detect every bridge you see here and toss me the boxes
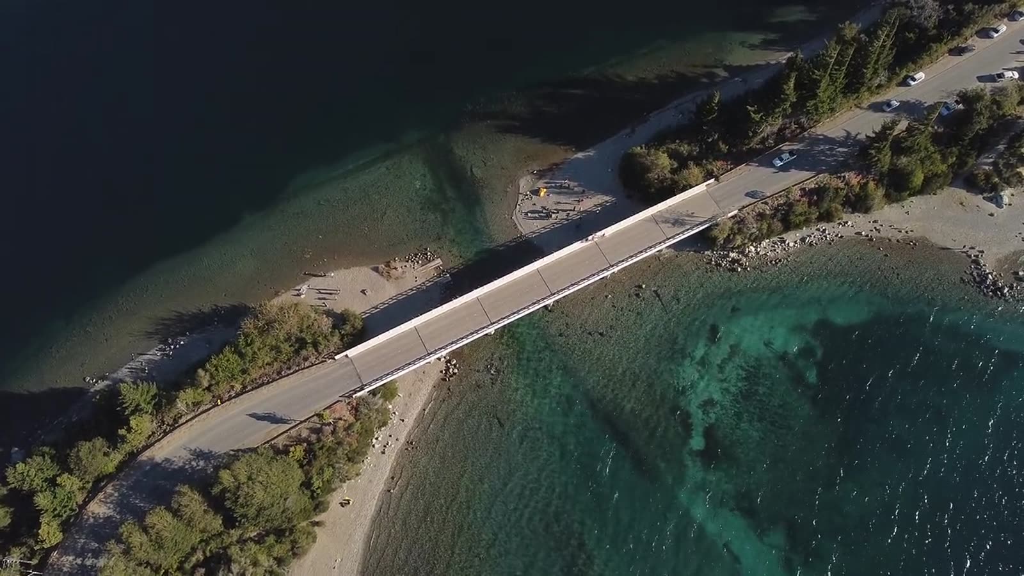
[332,175,743,394]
